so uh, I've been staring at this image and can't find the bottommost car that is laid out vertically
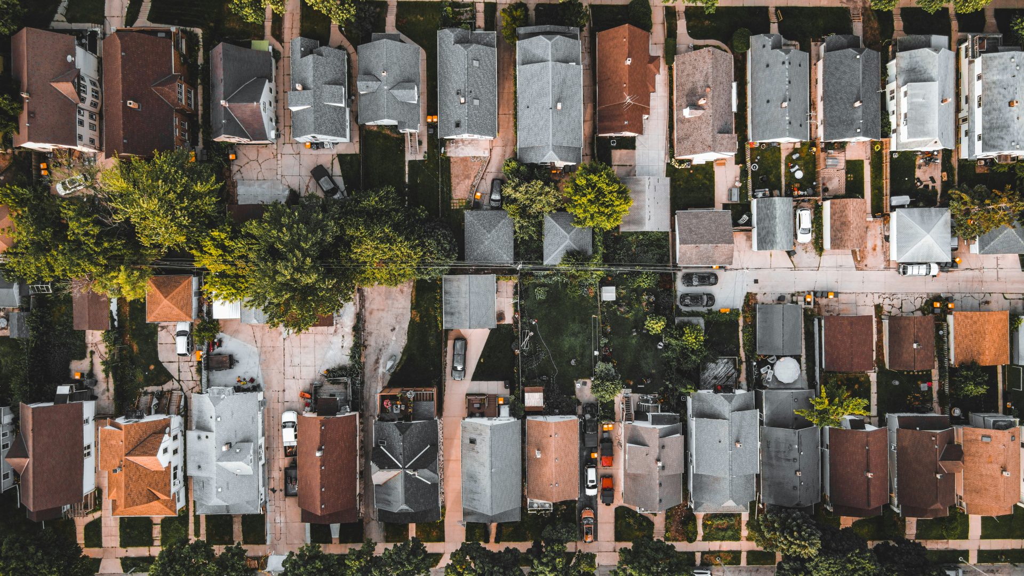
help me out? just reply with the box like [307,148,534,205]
[579,508,596,546]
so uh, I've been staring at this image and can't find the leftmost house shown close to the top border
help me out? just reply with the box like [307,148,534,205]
[11,26,101,151]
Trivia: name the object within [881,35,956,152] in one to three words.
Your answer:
house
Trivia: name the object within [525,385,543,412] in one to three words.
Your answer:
shed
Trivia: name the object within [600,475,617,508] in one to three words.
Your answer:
car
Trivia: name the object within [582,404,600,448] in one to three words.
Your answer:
vehicle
